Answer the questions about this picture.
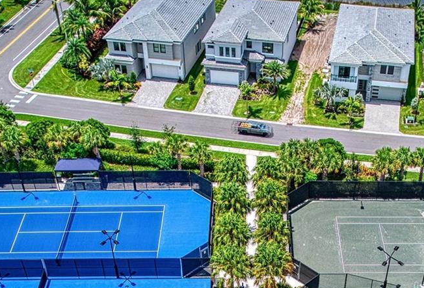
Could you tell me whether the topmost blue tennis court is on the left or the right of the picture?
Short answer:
left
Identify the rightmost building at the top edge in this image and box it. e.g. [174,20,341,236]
[329,3,415,101]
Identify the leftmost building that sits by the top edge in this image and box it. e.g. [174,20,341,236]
[104,0,211,80]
